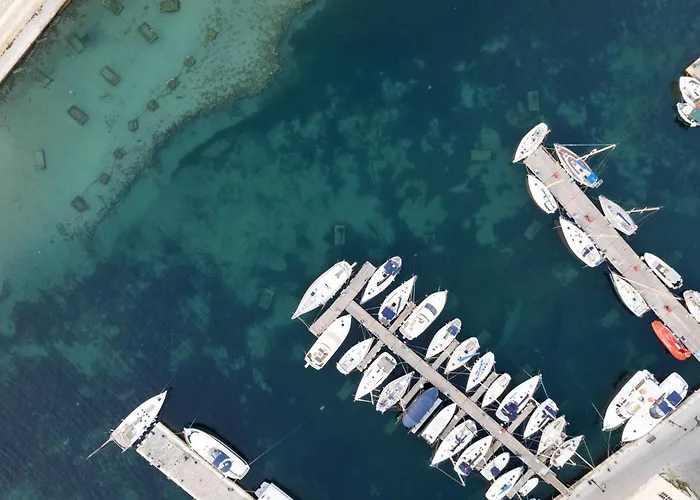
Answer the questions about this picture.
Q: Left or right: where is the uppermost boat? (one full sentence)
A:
It is on the right.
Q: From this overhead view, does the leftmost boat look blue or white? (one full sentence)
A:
From above, the leftmost boat appears white.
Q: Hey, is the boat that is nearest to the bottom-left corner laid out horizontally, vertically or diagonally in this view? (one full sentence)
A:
In this picture, the boat that is nearest to the bottom-left corner lies diagonally.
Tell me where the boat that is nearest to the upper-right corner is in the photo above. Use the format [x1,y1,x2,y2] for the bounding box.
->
[675,74,700,109]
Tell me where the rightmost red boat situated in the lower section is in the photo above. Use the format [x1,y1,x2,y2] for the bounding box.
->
[651,318,691,365]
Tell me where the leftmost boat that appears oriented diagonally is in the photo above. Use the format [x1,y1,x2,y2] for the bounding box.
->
[91,385,170,459]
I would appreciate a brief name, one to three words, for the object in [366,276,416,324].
boat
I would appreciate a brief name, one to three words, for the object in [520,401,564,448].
boat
